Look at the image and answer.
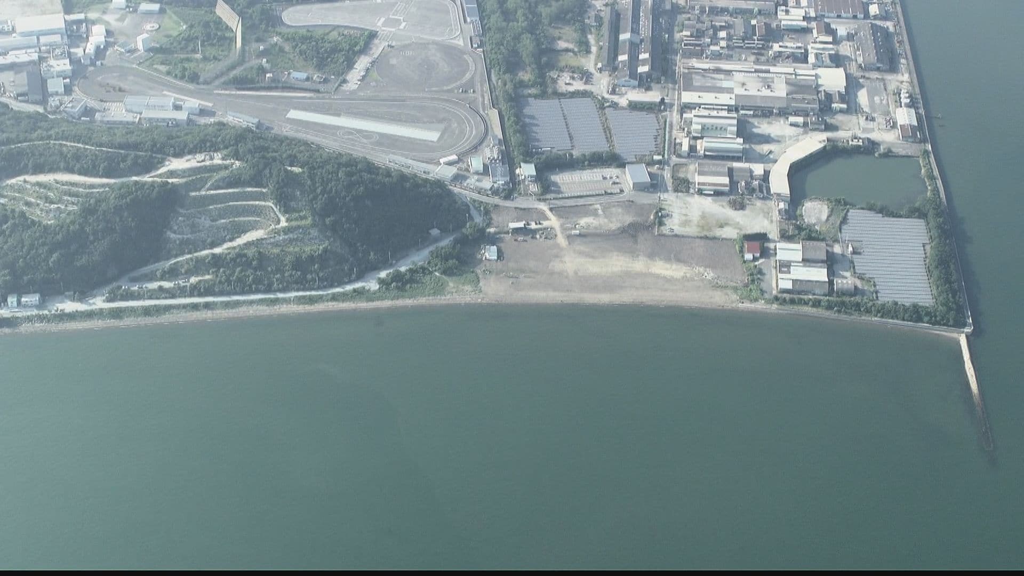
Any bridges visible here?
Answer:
No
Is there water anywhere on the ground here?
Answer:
Yes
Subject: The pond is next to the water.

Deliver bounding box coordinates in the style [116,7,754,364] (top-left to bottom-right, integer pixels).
[791,152,928,215]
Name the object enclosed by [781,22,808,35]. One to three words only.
building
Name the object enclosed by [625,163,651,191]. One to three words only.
building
